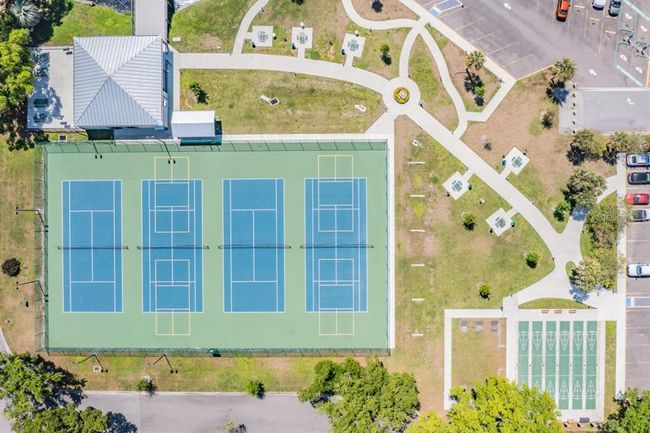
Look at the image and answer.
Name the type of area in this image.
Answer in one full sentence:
The area seen from above is a sports ground.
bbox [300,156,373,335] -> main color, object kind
blue tennis court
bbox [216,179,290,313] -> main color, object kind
blue tennis court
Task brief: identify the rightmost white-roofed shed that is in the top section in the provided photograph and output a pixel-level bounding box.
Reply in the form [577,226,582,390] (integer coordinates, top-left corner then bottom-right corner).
[171,110,220,145]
